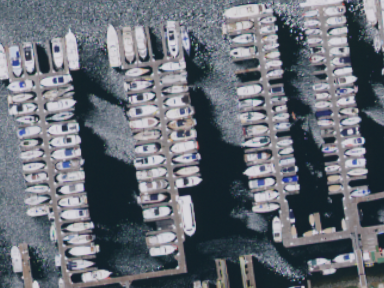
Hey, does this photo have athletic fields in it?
No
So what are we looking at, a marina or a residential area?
marina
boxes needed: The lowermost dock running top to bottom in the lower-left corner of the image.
[18,243,31,288]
